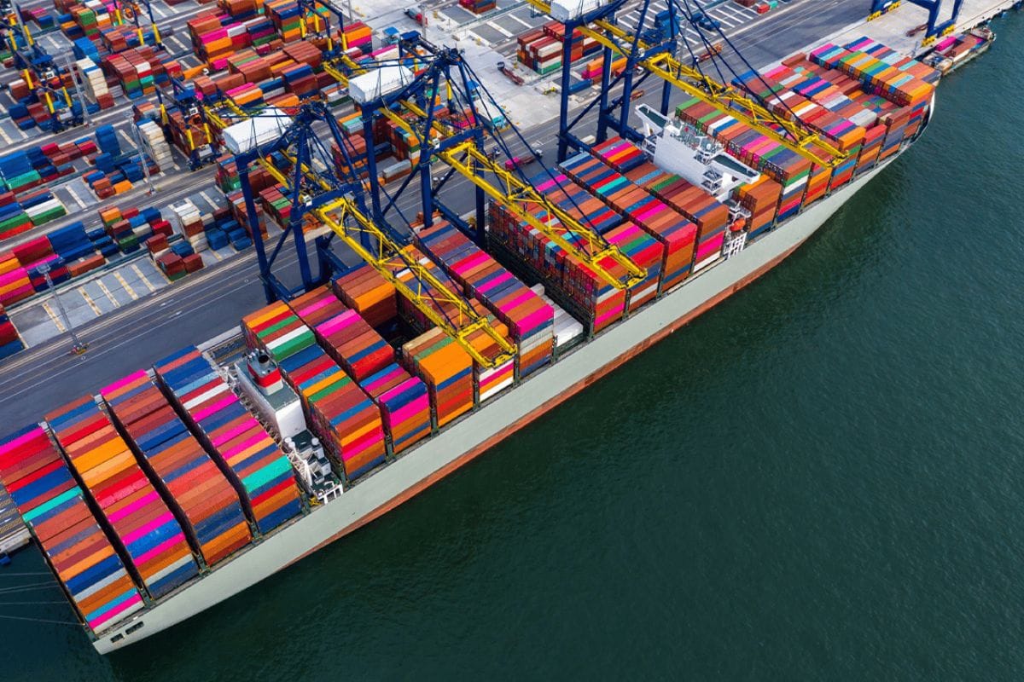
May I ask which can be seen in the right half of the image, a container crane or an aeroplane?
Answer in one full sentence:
You can see a container crane in the right half of the image.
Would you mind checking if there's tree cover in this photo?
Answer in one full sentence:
No, no tree cover is visible.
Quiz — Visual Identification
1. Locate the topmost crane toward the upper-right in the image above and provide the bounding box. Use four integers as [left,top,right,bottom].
[863,0,963,46]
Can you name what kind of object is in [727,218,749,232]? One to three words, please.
boat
